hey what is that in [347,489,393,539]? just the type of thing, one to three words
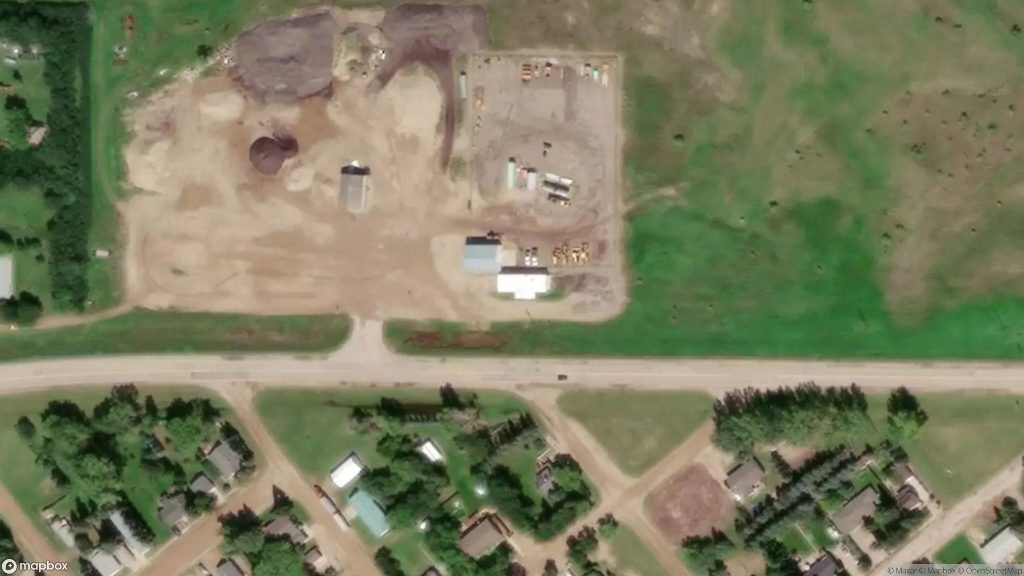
shed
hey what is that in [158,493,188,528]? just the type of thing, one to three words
house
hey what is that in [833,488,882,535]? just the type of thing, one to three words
house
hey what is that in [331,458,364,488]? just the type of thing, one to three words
shed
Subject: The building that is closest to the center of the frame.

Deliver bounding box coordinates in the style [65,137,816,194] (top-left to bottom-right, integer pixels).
[497,274,550,298]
